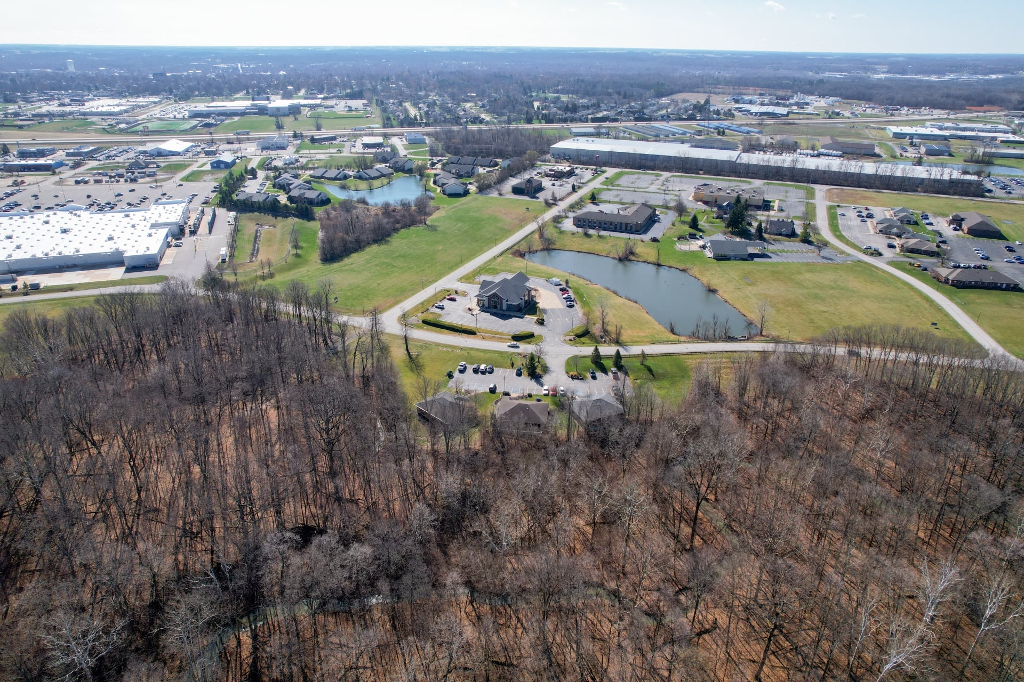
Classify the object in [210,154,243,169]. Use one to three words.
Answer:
barn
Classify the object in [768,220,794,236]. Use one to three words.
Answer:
house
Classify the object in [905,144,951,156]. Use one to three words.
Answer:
building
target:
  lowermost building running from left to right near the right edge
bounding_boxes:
[930,266,1023,290]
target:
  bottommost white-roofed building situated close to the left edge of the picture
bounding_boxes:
[0,201,190,274]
